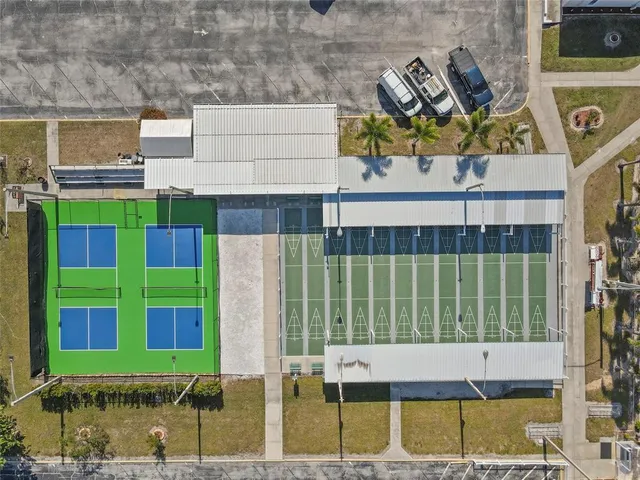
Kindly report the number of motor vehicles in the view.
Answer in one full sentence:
Looking from above, you can make out 3 motor vehicles.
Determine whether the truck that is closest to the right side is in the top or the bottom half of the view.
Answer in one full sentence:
The truck that is closest to the right side sits in the top half of the picture.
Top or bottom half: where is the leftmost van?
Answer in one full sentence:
The leftmost van sits in the top half of the picture.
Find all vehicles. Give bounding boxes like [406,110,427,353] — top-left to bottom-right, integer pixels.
[446,44,491,106]
[378,67,419,114]
[404,56,452,114]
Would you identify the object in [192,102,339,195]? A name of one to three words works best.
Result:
building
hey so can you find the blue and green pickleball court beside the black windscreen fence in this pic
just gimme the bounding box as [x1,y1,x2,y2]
[58,224,118,350]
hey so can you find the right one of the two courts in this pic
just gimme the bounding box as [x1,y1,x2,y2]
[145,224,204,350]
